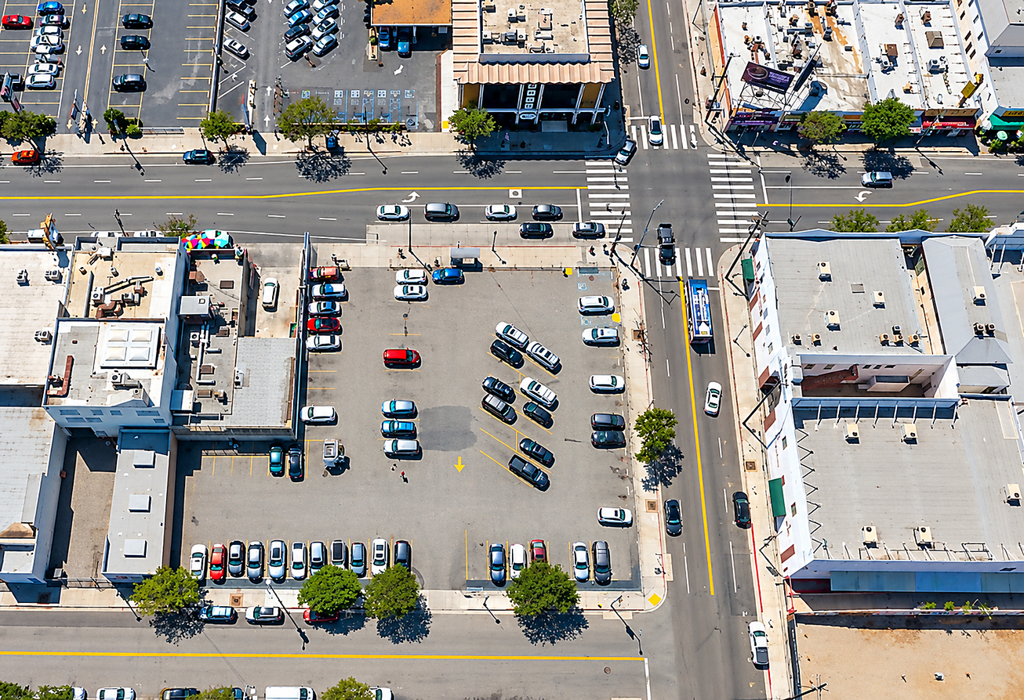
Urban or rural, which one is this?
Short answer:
urban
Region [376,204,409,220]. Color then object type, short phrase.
white car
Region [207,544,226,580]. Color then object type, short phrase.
red car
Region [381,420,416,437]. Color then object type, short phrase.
blue car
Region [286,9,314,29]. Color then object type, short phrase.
blue car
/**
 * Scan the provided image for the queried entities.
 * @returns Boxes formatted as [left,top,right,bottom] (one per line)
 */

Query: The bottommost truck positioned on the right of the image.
[744,620,774,672]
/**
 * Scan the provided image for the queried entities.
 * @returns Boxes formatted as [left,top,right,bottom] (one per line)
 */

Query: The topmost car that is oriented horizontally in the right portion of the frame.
[860,172,893,187]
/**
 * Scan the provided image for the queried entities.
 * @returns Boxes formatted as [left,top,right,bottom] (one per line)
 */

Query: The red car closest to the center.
[382,350,421,367]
